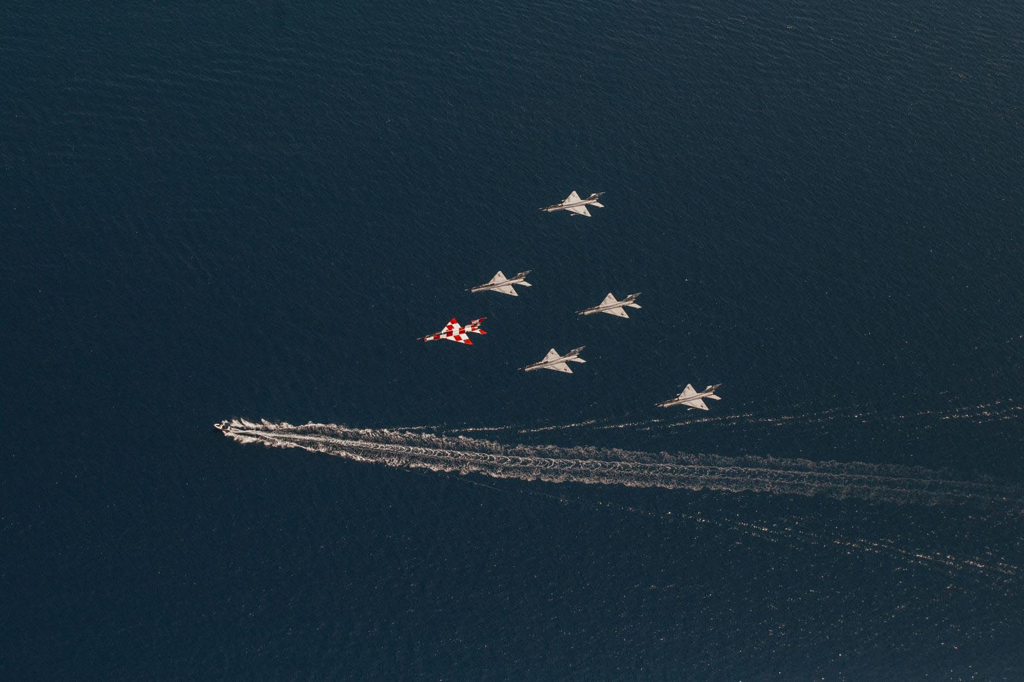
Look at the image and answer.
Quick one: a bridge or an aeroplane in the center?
aeroplane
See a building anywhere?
No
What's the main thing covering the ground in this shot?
water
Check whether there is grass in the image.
No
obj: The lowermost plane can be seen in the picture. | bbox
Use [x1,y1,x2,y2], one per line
[656,384,720,410]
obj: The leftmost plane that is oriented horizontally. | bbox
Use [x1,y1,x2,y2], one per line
[419,318,486,344]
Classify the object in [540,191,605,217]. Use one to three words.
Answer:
airplane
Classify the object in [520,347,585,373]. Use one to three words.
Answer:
airplane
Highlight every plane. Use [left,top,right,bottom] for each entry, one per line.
[656,384,720,410]
[576,292,642,318]
[520,347,585,373]
[465,270,531,296]
[419,318,486,344]
[540,191,605,217]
